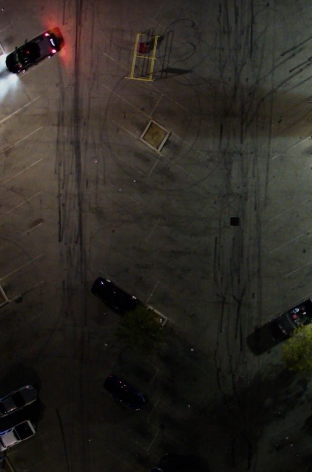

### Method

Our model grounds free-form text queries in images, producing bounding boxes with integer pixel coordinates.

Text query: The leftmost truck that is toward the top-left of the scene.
[4,32,59,75]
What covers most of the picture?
paved ground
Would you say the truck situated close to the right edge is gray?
No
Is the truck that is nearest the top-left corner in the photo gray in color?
No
